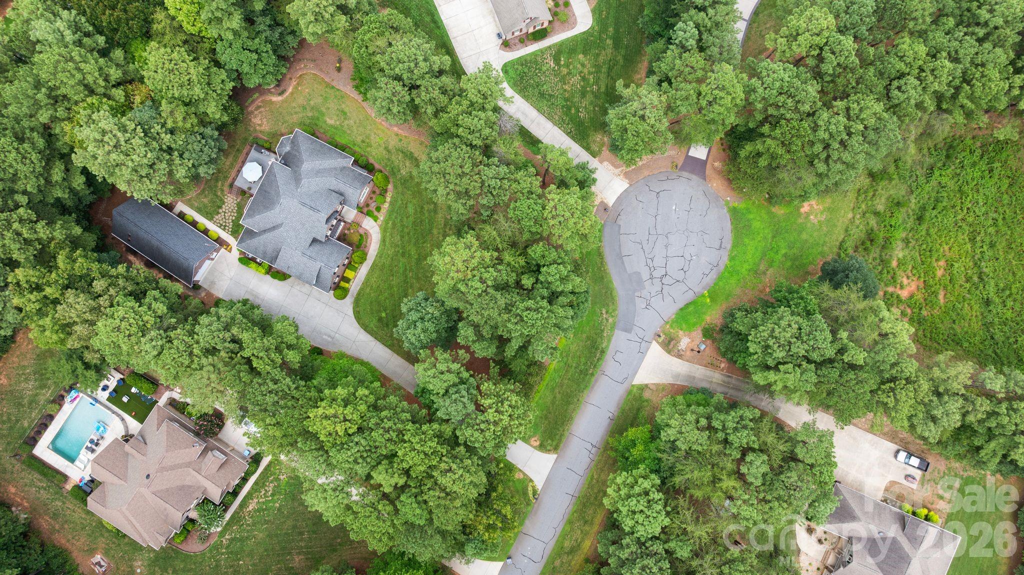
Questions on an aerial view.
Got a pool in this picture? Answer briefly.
Yes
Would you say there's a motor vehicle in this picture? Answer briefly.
Yes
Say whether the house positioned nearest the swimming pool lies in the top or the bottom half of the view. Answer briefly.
bottom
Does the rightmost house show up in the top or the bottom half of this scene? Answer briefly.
bottom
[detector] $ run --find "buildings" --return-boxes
[236,129,373,294]
[87,404,252,551]
[816,482,962,575]
[492,0,552,40]
[111,196,222,286]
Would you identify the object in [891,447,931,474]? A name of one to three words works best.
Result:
truck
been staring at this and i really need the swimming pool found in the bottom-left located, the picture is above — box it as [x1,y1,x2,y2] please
[45,401,118,474]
